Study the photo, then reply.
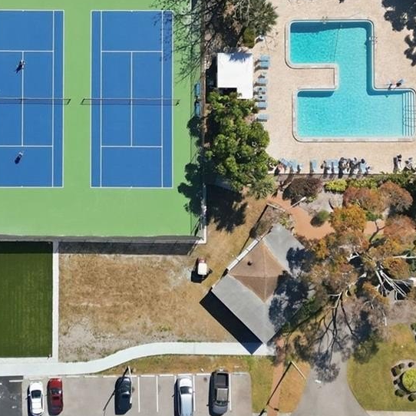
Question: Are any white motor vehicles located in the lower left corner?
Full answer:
Yes, a white motor vehicle appears in the lower left corner.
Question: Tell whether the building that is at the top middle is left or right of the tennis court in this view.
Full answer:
It is on the right side of the tennis court that the building that is at the top middle is positioned.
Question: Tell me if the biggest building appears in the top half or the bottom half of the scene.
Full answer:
The biggest building sits in the bottom half of the picture.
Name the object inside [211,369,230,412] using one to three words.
vehicle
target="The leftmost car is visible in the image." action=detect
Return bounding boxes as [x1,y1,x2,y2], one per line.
[28,380,44,416]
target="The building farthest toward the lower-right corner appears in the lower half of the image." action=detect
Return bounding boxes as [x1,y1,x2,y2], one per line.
[212,224,327,343]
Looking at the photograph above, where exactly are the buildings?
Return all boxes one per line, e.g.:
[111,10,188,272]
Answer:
[212,224,327,343]
[217,54,253,98]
